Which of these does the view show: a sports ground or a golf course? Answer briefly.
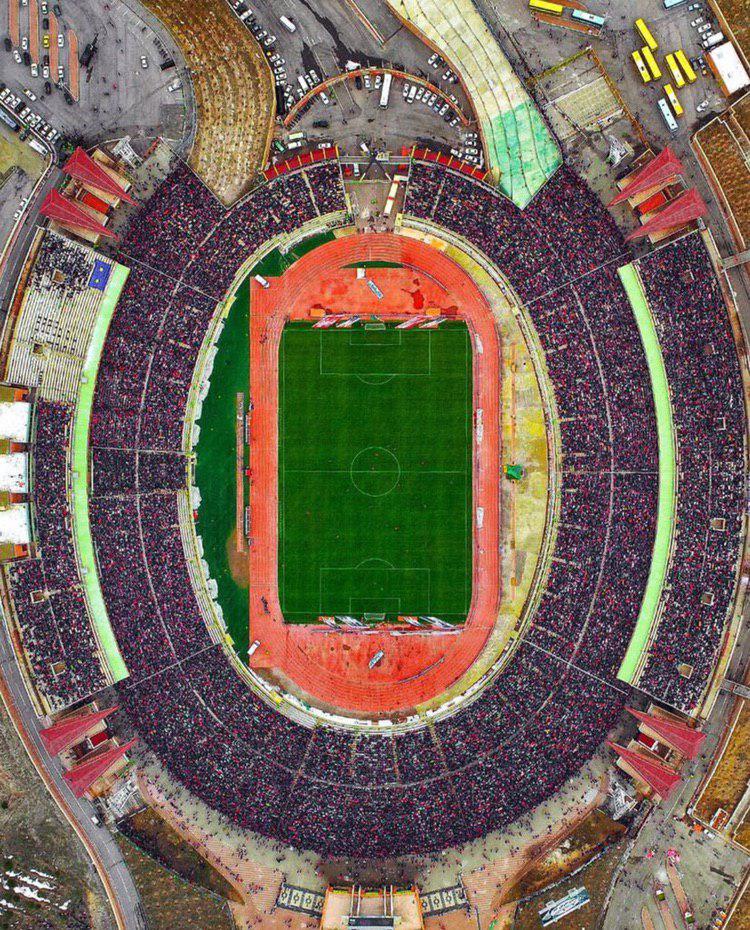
sports ground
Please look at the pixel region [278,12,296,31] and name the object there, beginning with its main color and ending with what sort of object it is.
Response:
white vehicle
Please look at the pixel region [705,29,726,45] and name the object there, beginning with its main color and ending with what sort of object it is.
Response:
white vehicle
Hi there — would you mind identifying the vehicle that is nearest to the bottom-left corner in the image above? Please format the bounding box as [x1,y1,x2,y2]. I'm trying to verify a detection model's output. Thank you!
[88,812,103,828]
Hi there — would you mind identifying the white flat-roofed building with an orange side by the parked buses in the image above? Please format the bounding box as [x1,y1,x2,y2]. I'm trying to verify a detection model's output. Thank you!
[702,42,750,104]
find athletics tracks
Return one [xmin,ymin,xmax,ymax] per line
[250,235,500,714]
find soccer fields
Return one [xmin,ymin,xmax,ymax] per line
[281,322,472,622]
